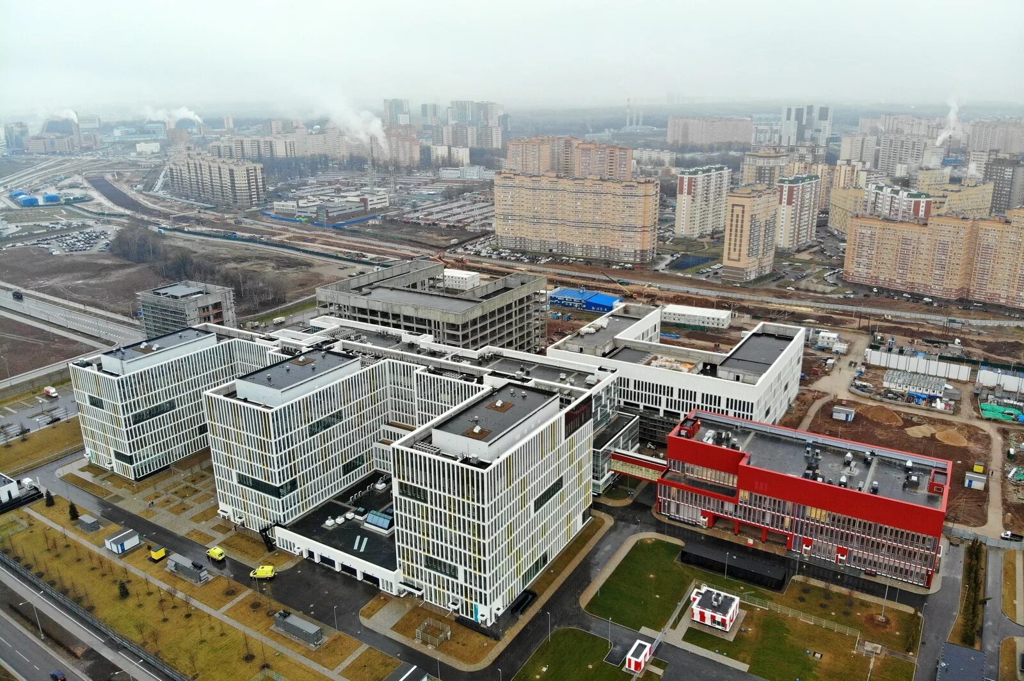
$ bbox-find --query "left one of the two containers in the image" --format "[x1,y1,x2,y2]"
[164,549,215,587]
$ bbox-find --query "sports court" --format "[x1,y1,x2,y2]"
[669,254,715,270]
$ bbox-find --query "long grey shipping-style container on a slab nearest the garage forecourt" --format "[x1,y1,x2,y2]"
[268,605,333,649]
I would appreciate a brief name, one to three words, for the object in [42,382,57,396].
vehicle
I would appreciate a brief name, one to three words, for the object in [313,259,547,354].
building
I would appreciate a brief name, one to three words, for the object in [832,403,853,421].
shed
